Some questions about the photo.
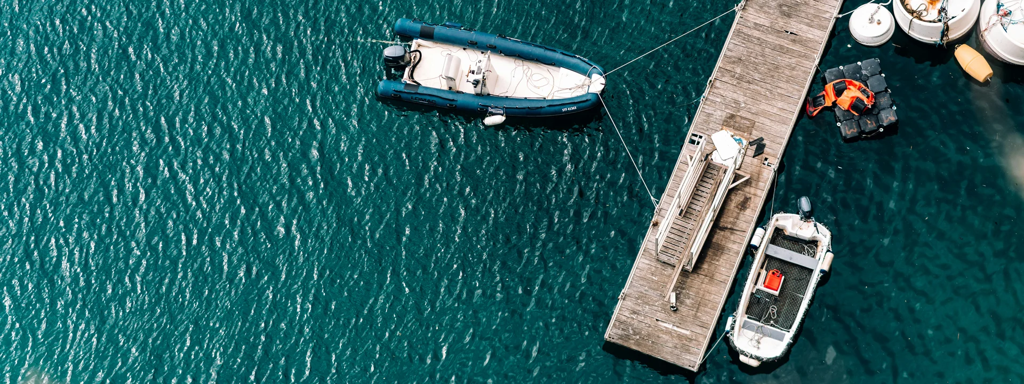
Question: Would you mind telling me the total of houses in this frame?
0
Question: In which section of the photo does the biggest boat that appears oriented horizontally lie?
top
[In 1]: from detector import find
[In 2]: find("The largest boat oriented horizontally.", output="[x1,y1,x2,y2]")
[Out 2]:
[378,19,607,118]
